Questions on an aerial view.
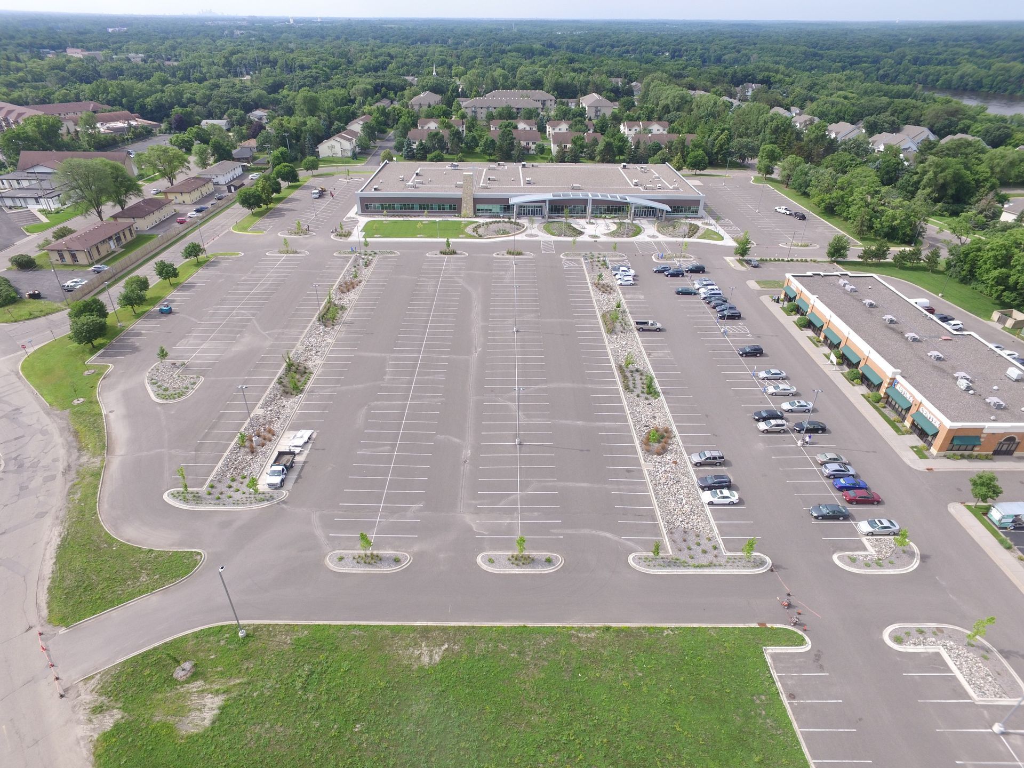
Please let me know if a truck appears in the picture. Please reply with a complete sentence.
Yes, the photo shows a truck.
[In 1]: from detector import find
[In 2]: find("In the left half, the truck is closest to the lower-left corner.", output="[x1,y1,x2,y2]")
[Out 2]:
[264,445,298,485]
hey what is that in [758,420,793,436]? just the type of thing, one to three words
car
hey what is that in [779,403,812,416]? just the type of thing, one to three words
vehicle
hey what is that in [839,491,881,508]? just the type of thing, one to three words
car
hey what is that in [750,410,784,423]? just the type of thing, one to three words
vehicle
